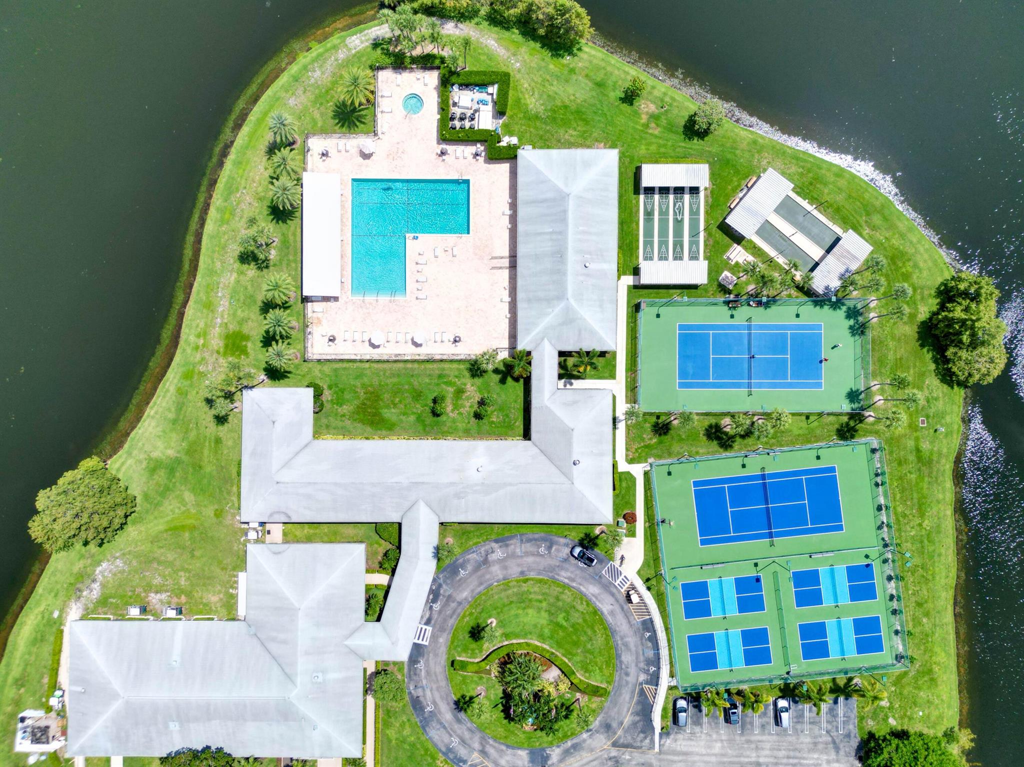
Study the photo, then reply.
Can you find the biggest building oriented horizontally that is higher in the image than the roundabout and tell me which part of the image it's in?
center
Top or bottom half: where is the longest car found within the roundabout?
bottom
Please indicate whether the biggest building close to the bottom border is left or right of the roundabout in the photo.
to the left of it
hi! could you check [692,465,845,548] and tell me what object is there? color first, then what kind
blue tennis court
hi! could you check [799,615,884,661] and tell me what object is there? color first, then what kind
blue sports court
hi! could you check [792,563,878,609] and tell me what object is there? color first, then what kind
blue sports court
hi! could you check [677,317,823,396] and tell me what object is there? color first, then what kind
blue tennis court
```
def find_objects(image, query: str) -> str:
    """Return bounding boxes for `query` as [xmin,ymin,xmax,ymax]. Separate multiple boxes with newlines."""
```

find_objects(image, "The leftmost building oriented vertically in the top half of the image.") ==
[299,171,343,298]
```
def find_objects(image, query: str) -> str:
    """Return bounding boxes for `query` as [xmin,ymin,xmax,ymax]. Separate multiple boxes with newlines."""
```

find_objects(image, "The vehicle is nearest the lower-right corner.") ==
[775,697,790,727]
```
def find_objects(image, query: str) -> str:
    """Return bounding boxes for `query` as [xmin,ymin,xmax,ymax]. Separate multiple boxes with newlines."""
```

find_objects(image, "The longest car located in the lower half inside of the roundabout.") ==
[569,546,599,567]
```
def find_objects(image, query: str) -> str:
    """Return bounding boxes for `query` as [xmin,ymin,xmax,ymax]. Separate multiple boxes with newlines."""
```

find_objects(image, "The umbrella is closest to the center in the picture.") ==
[413,330,429,346]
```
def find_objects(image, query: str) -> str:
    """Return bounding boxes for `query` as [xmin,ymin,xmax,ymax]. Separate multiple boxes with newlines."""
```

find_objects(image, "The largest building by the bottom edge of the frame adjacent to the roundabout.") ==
[66,544,366,758]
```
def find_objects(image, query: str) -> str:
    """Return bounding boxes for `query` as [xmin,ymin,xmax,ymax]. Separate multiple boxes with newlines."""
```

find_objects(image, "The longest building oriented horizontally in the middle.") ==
[241,339,613,524]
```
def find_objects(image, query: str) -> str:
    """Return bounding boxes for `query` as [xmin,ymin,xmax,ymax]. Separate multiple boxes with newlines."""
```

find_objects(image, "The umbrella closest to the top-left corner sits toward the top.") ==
[360,139,376,155]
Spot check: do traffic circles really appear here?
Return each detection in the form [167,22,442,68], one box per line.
[405,532,660,767]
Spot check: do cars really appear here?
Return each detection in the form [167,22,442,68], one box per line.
[775,697,790,727]
[569,546,599,567]
[726,696,738,726]
[674,697,688,726]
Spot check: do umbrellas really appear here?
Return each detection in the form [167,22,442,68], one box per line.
[360,139,376,155]
[370,330,386,346]
[413,330,429,346]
